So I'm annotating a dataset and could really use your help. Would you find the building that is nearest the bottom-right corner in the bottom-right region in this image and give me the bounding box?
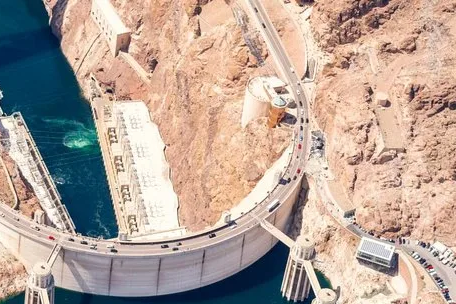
[353,237,395,274]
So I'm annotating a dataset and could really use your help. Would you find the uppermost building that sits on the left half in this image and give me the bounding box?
[78,0,131,55]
